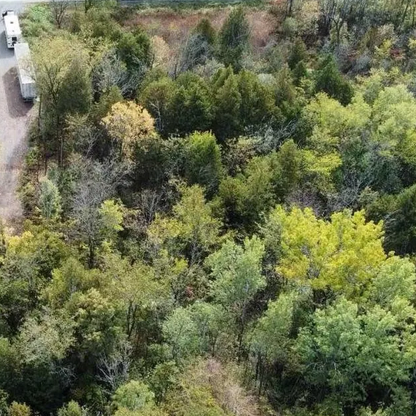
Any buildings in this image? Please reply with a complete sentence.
No, there is no building in the image.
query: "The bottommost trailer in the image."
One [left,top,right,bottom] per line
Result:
[15,45,37,104]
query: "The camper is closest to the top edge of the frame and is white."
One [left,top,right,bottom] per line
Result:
[2,16,21,49]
